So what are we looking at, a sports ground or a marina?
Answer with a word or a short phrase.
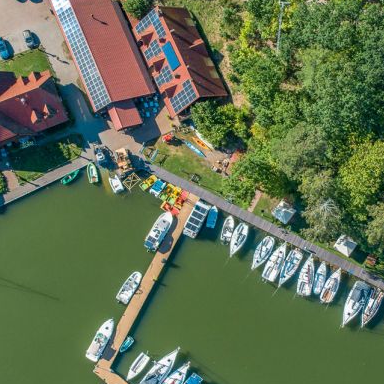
marina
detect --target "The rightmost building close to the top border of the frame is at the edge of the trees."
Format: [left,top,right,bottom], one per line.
[133,7,227,118]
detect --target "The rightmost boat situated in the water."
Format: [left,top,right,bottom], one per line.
[362,289,384,326]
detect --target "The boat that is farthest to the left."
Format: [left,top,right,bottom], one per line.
[61,172,79,185]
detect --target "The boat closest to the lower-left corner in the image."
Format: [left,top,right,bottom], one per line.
[86,319,114,365]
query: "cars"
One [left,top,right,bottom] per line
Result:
[0,35,9,58]
[20,27,37,48]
